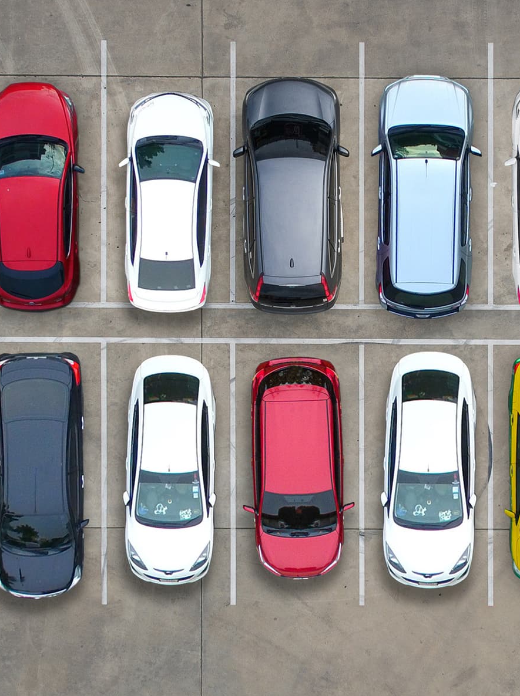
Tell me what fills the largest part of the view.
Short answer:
paved ground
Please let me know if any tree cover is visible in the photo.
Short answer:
No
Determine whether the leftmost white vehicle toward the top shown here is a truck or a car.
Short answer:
car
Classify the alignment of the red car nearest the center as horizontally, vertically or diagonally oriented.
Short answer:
vertically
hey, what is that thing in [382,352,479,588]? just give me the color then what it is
white car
